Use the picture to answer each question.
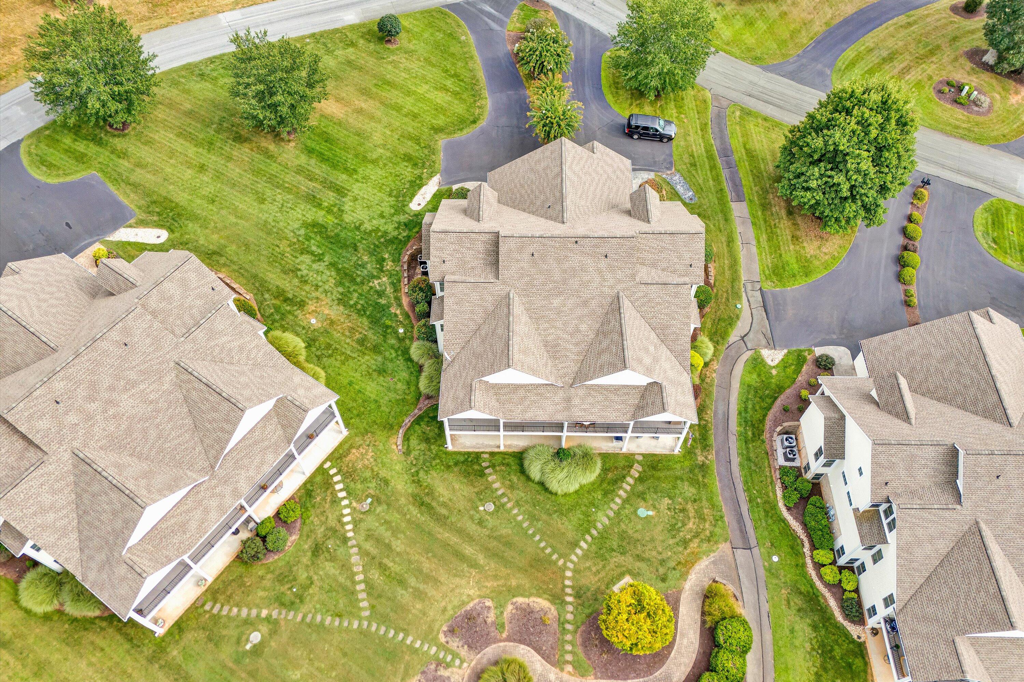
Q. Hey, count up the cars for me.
1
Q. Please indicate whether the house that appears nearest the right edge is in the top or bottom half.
bottom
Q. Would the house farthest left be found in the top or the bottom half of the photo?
bottom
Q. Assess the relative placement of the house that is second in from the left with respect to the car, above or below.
below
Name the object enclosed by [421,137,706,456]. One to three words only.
house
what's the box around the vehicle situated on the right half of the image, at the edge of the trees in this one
[623,113,677,144]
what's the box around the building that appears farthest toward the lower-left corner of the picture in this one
[0,249,352,641]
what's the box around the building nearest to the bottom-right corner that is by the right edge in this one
[796,306,1024,682]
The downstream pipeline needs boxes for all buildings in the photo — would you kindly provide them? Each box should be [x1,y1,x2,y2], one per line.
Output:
[0,249,352,641]
[796,306,1024,682]
[421,137,706,456]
